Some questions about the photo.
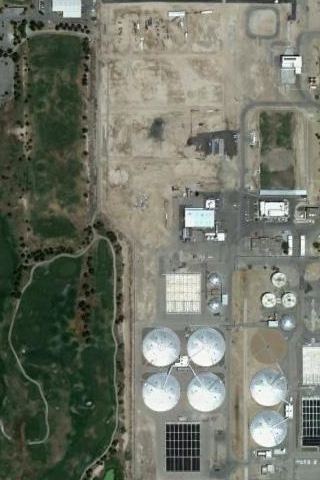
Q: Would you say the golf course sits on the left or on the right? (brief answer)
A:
left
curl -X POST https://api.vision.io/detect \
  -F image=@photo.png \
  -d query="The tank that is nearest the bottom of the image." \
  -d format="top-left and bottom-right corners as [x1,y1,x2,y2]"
[250,409,288,447]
